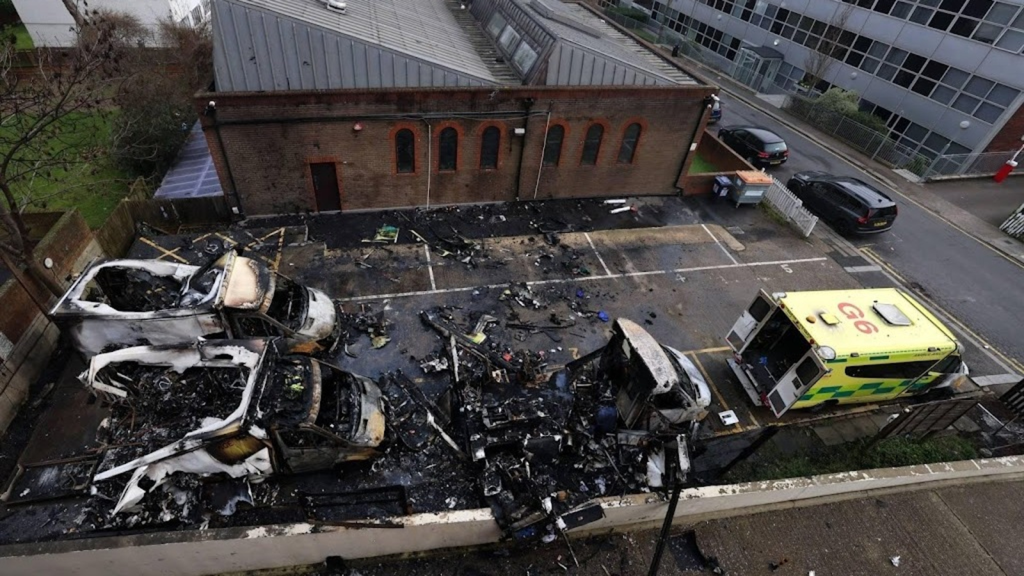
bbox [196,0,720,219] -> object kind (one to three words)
building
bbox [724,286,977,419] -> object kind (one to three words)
van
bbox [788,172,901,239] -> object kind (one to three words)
car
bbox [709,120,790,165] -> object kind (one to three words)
car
